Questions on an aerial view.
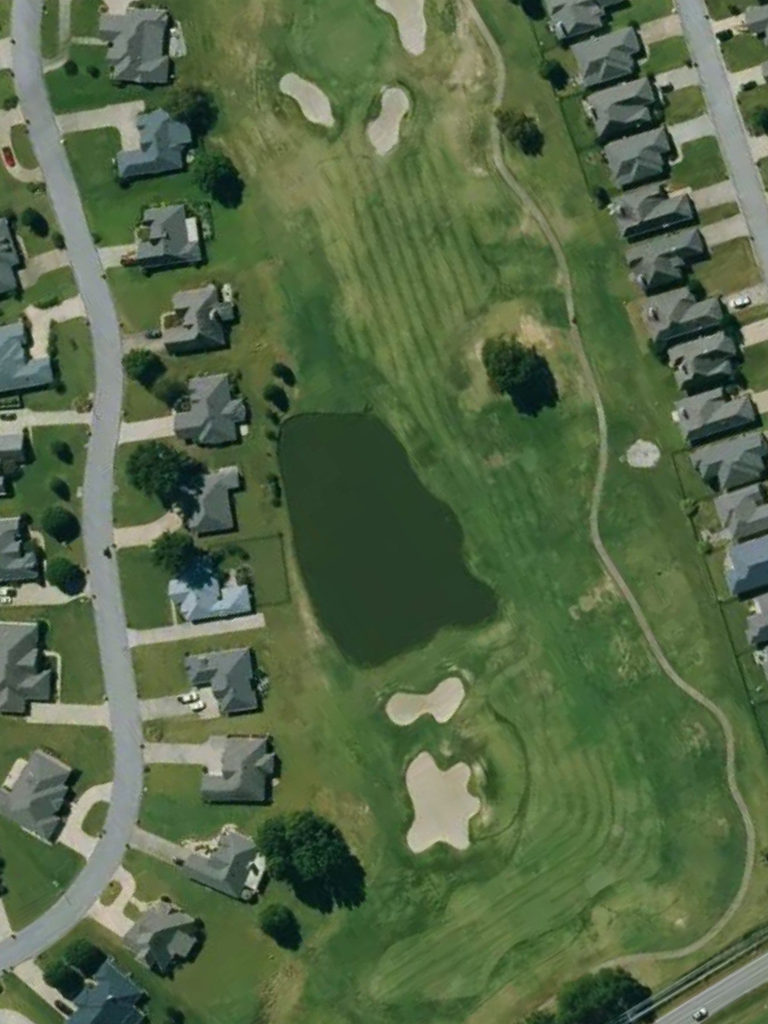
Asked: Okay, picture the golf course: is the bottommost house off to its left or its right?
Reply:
left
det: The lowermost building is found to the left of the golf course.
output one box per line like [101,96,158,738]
[54,960,155,1024]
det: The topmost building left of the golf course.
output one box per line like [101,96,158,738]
[98,8,170,82]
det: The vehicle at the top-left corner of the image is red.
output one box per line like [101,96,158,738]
[2,146,14,167]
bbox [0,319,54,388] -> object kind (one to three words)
house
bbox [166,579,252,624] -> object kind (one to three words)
house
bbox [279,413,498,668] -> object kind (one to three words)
pond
